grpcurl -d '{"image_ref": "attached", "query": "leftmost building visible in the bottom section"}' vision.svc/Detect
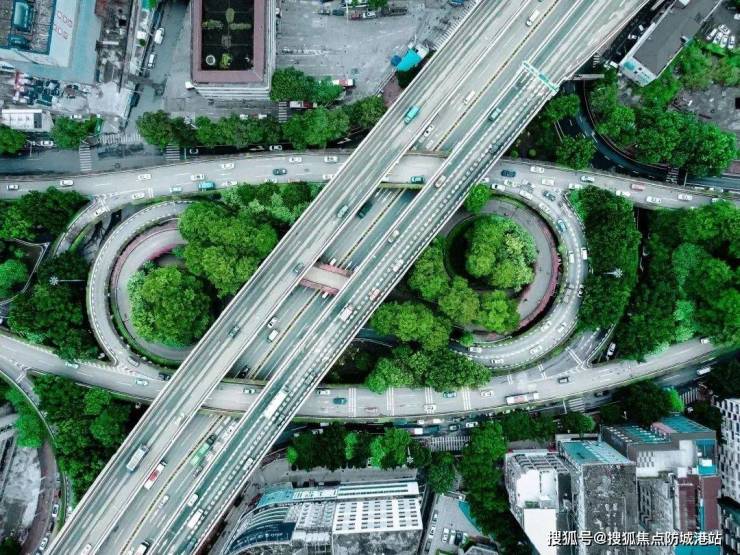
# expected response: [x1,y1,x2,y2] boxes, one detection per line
[226,507,306,555]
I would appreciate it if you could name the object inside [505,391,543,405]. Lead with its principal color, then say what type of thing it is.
white vehicle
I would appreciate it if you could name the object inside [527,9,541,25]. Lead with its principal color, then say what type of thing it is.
white vehicle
